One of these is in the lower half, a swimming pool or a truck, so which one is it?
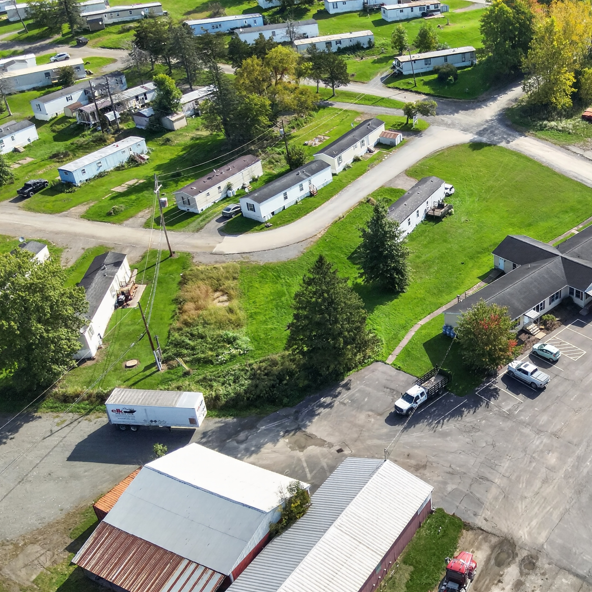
truck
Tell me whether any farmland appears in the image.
No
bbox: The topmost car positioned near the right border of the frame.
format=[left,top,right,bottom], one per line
[530,342,563,364]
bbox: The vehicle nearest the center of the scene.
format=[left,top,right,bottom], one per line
[217,202,244,218]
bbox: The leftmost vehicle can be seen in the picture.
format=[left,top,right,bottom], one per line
[11,181,54,201]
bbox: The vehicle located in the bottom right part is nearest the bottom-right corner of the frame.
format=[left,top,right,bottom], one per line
[443,546,487,592]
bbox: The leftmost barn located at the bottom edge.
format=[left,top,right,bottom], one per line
[71,443,310,592]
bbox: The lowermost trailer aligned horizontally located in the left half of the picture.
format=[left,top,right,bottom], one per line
[105,388,207,430]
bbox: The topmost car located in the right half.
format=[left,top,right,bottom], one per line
[439,177,460,198]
